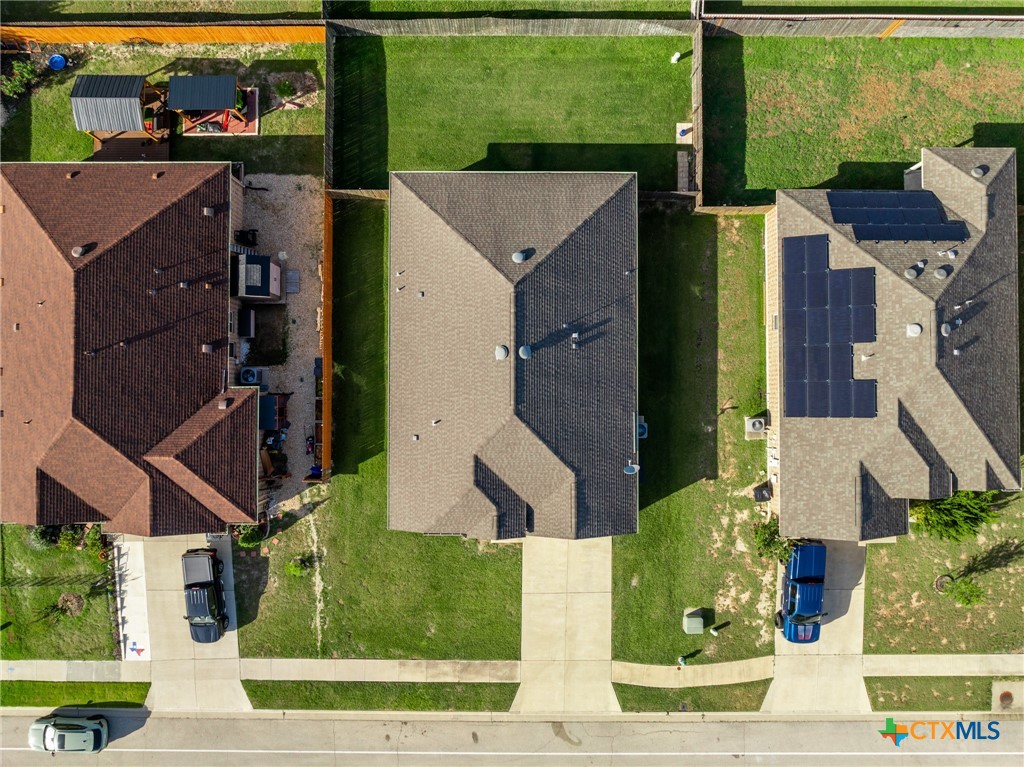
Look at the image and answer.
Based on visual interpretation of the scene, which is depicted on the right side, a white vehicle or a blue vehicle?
blue vehicle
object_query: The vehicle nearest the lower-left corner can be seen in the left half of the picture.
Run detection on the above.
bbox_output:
[29,713,108,757]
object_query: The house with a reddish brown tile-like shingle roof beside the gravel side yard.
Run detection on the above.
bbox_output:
[0,155,268,537]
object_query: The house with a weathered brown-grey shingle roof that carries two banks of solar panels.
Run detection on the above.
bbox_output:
[763,147,1019,540]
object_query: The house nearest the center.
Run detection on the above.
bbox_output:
[389,172,639,542]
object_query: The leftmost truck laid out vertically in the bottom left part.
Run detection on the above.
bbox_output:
[181,545,228,643]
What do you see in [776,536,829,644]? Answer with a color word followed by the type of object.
blue truck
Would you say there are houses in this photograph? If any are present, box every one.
[0,155,268,537]
[763,147,1019,540]
[389,172,639,542]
